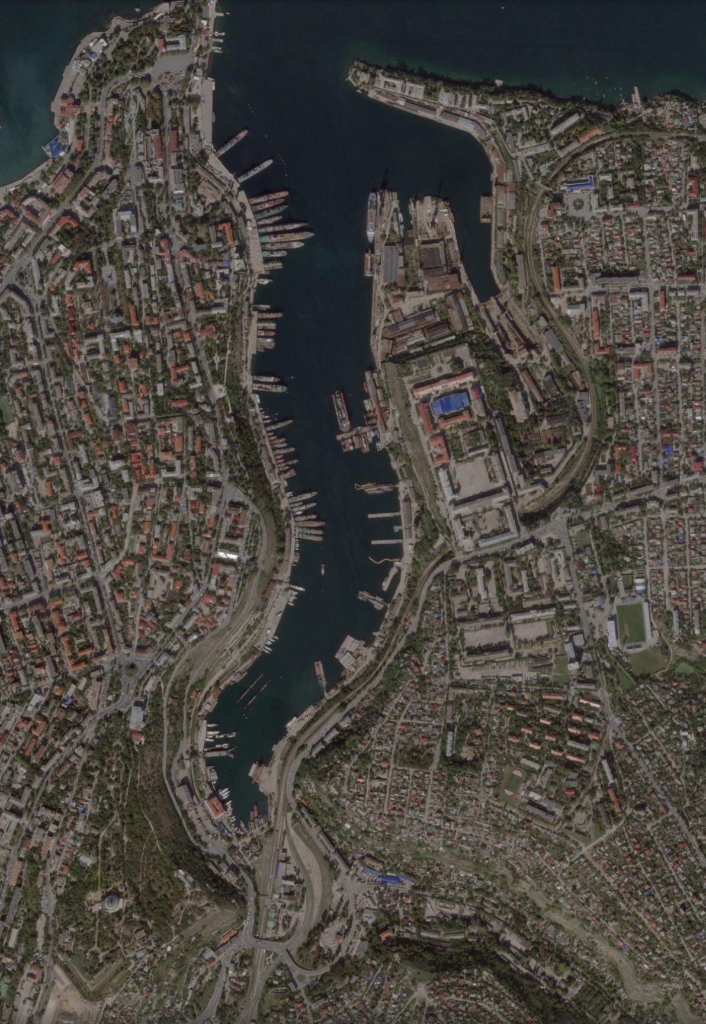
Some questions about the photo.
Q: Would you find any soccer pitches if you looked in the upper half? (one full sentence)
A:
No, there is no soccer pitch in the upper half.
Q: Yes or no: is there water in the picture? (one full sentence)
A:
Yes, water shows up in the scene.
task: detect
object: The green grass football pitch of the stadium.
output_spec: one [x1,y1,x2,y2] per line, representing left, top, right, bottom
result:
[617,603,646,645]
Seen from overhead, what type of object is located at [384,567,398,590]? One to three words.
ship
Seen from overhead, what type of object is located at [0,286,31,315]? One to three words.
building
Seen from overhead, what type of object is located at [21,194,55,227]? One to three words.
building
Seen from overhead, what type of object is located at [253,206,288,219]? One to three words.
ship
